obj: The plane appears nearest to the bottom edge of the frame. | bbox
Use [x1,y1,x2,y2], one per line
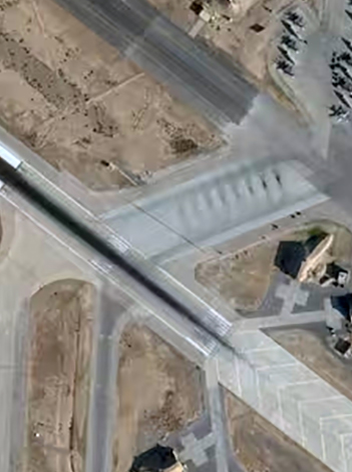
[335,110,350,125]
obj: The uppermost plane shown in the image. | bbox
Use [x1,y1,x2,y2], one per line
[287,12,302,26]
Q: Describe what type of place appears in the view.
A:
airport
